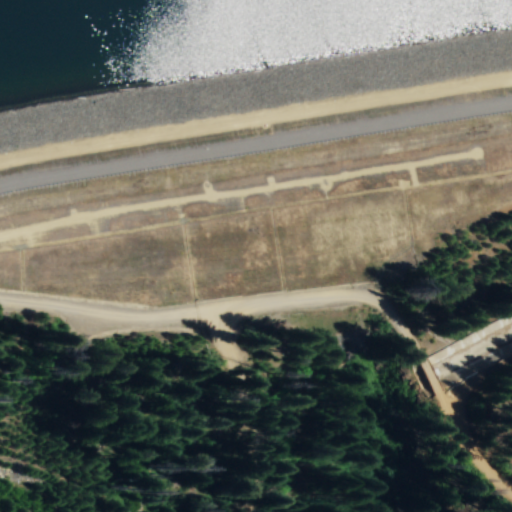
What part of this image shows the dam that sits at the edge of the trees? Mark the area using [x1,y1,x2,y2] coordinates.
[0,28,512,305]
